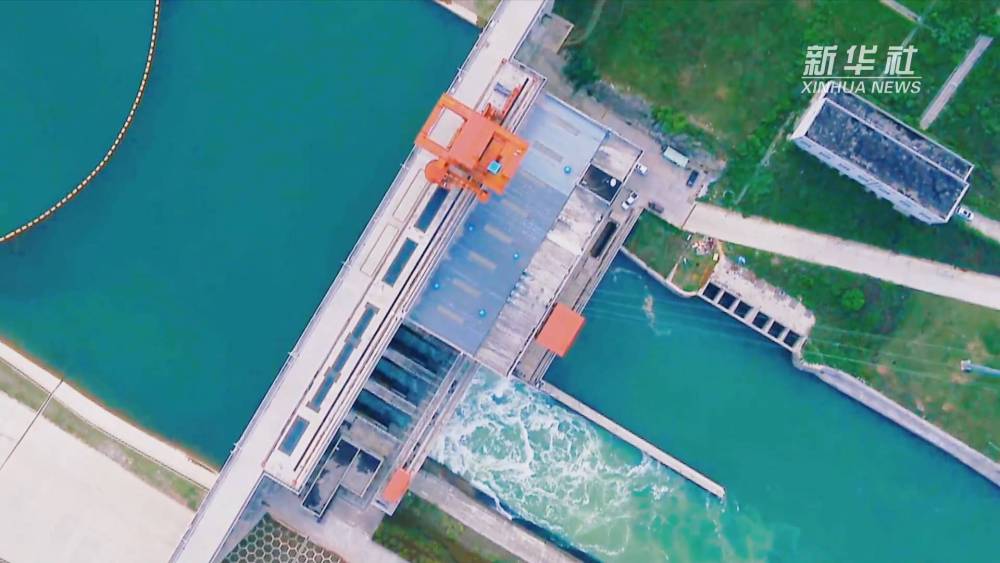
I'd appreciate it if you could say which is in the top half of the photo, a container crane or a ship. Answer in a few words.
container crane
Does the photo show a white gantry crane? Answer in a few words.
No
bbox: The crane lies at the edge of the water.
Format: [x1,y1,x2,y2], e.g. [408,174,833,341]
[415,94,529,210]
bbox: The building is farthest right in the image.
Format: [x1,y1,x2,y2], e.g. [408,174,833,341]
[792,85,981,224]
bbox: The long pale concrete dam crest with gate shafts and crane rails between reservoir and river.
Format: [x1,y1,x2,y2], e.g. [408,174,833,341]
[167,0,555,563]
